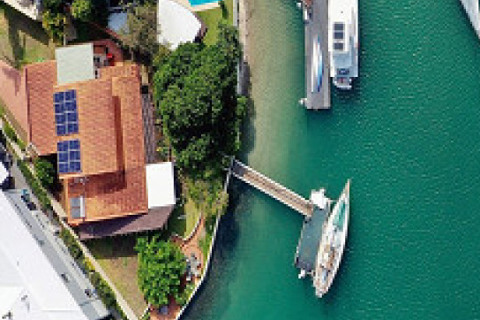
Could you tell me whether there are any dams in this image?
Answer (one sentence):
No, no dam is visible in the view.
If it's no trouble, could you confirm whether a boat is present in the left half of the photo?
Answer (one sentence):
No, looking in the left half of the photo, there is no boat.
